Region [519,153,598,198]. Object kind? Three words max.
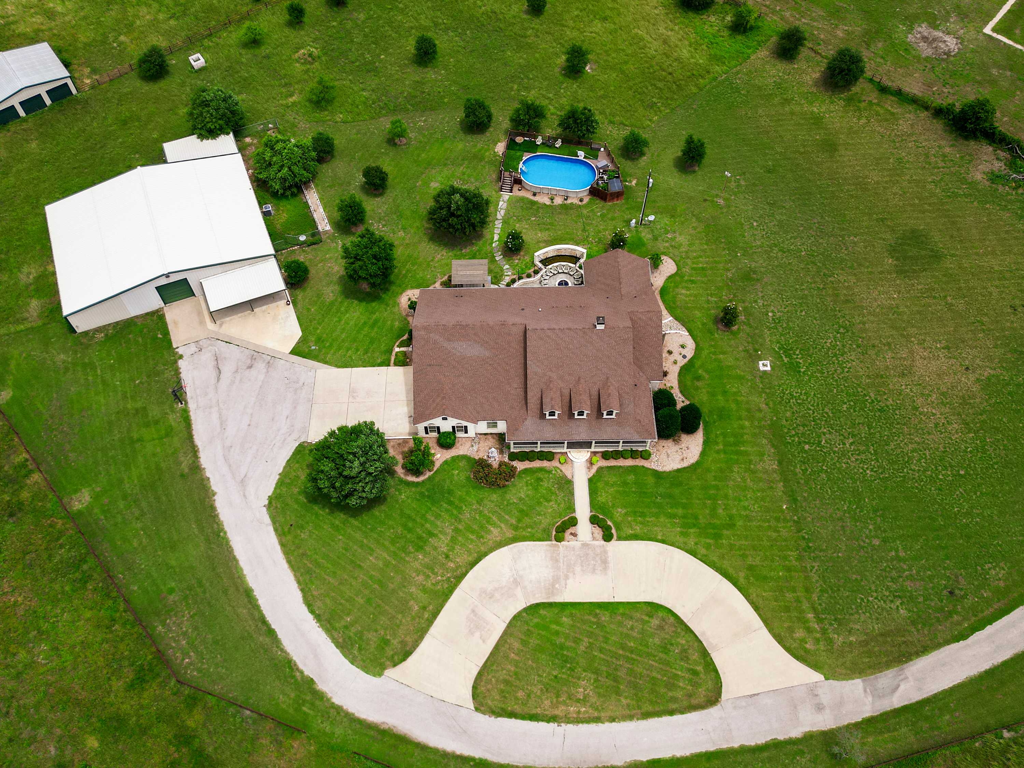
swimming pool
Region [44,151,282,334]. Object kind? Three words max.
barn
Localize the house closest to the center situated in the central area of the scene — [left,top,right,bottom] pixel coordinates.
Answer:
[412,248,664,463]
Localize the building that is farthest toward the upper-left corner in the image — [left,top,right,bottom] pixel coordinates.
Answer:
[0,41,79,126]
